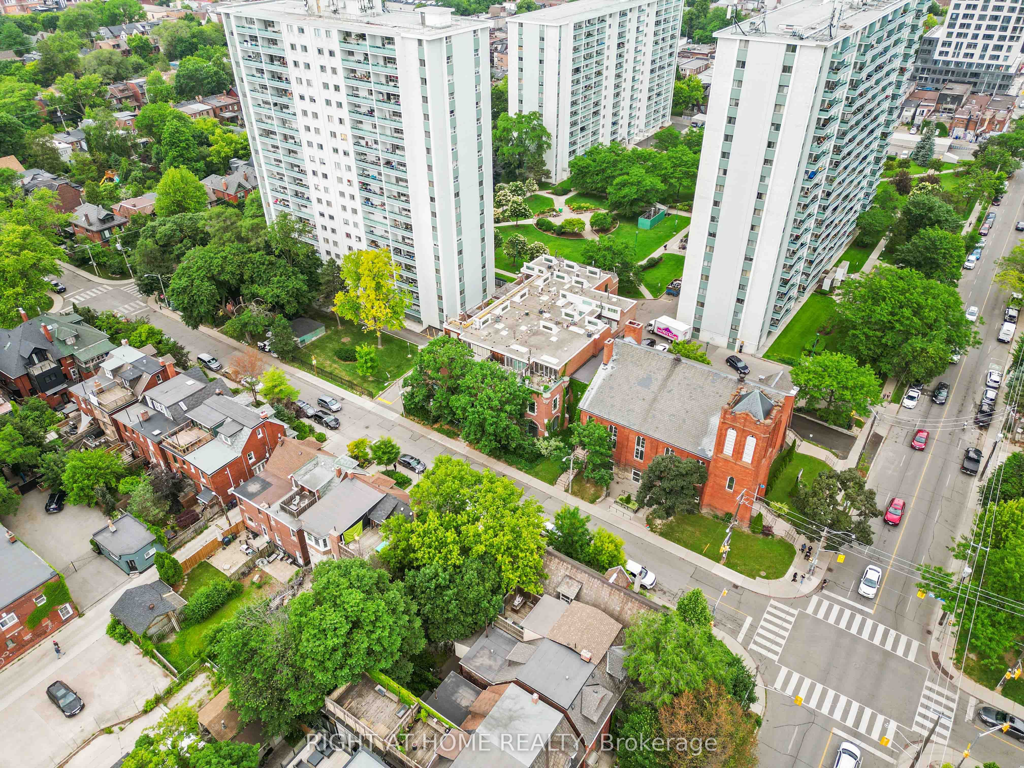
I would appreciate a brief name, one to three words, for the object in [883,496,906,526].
car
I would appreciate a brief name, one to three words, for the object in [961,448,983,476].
truck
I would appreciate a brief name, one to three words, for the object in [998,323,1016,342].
vehicle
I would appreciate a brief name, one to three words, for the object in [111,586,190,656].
building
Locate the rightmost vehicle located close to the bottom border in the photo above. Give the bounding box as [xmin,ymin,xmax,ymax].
[973,701,1024,740]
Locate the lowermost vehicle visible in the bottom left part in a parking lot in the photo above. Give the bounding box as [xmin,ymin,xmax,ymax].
[45,679,86,720]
